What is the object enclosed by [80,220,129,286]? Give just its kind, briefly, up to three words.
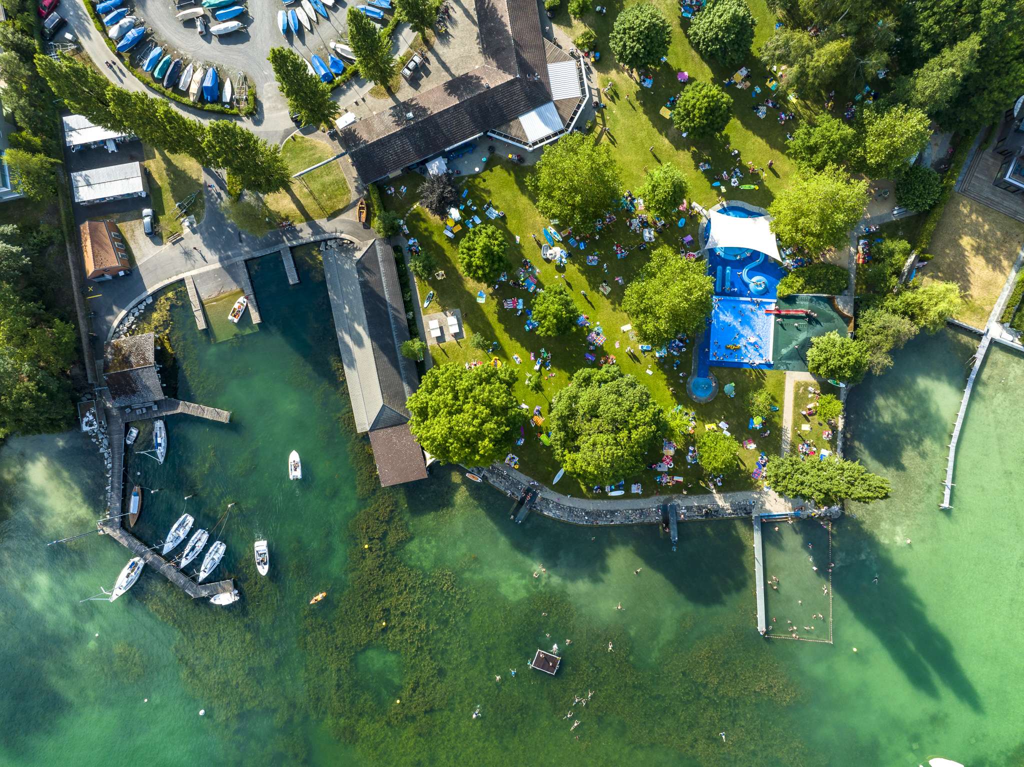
house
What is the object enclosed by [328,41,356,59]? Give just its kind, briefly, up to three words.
boat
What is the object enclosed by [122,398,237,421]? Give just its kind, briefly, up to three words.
pier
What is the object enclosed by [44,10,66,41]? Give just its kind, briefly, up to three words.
car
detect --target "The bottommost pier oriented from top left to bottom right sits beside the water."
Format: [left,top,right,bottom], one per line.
[98,514,202,599]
